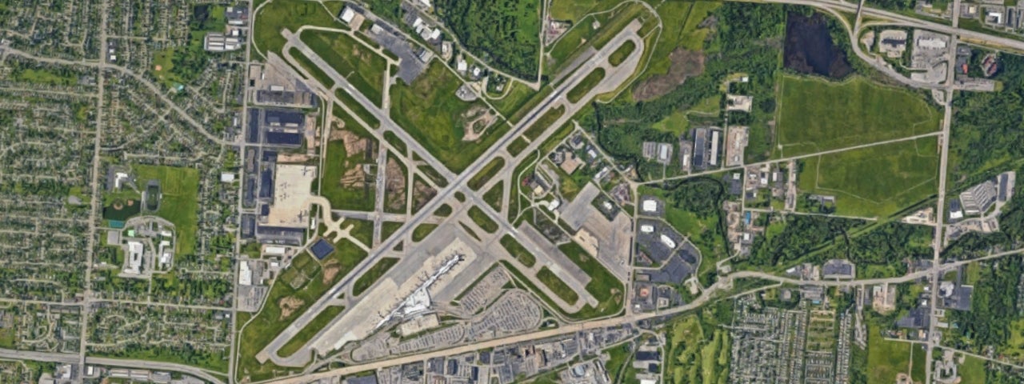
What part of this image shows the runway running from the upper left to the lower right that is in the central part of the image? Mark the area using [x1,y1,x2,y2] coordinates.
[287,27,599,308]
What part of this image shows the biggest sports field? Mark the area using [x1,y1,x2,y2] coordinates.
[107,165,198,256]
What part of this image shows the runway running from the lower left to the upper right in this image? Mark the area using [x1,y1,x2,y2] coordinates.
[260,22,640,360]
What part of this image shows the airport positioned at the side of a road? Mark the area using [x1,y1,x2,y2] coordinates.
[237,0,662,382]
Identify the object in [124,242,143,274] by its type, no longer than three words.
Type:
building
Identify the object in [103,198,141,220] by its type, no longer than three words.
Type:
baseball field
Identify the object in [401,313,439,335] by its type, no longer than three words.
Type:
building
